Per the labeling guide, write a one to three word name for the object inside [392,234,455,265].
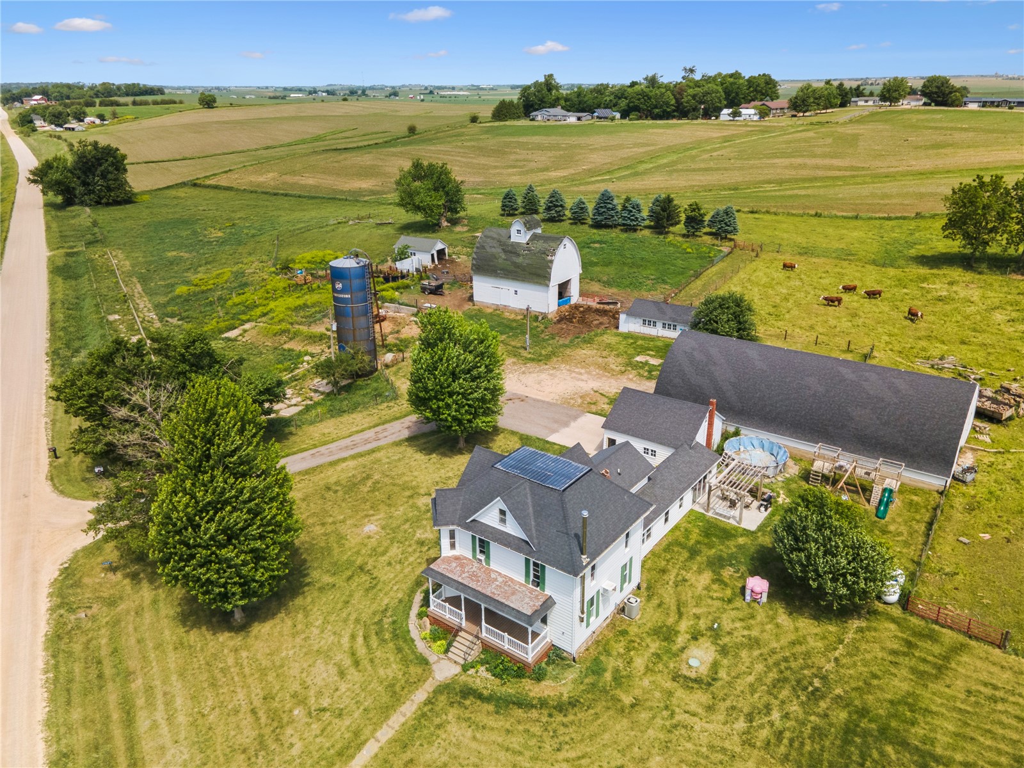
shed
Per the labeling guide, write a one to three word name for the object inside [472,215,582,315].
barn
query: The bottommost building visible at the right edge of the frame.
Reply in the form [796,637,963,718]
[654,323,985,492]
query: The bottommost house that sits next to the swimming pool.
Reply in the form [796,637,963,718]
[420,437,720,671]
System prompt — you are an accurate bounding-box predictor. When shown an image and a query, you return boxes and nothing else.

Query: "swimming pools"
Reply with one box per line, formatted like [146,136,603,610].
[719,437,791,482]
